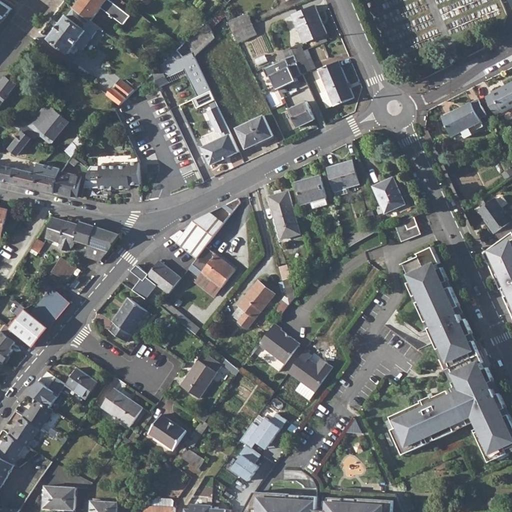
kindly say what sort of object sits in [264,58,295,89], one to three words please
house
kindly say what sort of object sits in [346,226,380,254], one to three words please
shed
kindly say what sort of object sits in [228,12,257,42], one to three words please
building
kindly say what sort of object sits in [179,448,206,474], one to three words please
barn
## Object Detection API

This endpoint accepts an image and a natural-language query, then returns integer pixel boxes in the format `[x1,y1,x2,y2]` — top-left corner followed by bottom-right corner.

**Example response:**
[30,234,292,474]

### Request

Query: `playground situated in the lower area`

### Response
[342,454,367,479]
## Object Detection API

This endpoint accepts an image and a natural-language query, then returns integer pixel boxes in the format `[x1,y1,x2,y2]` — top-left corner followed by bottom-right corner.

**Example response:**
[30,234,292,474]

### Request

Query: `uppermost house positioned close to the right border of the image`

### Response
[481,78,512,116]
